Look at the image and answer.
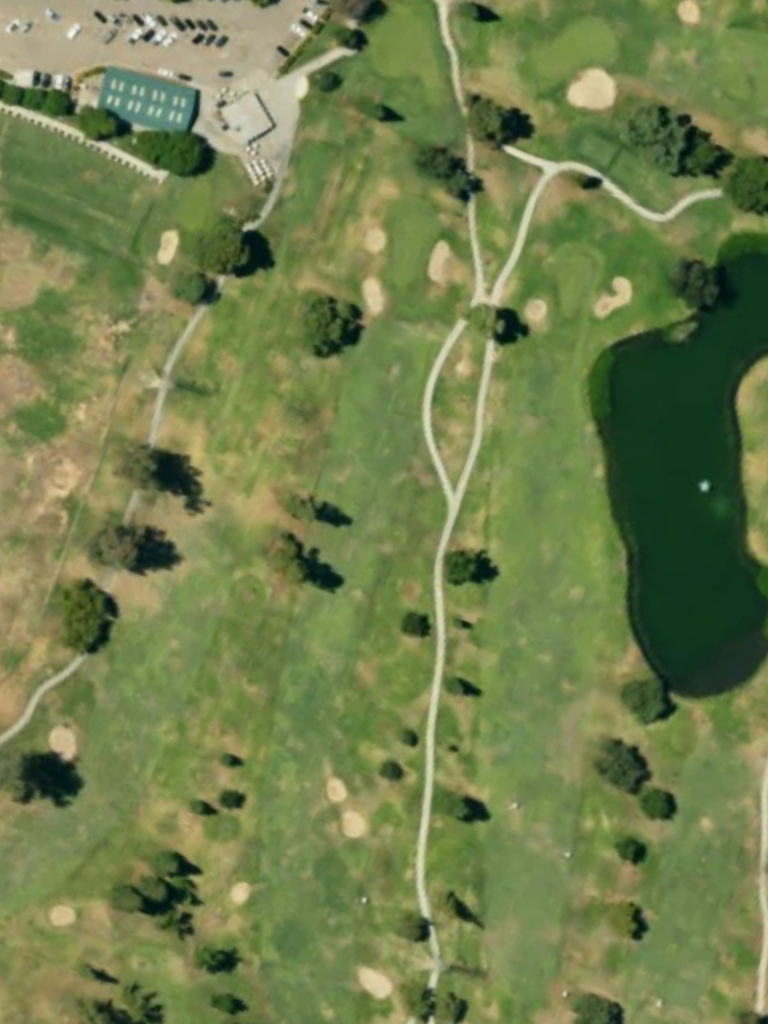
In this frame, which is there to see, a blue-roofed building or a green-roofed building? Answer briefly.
green-roofed building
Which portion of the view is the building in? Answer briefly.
top left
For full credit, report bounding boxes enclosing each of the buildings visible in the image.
[98,66,198,132]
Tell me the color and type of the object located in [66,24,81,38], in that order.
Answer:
white vehicle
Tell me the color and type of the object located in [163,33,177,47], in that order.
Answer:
white vehicle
